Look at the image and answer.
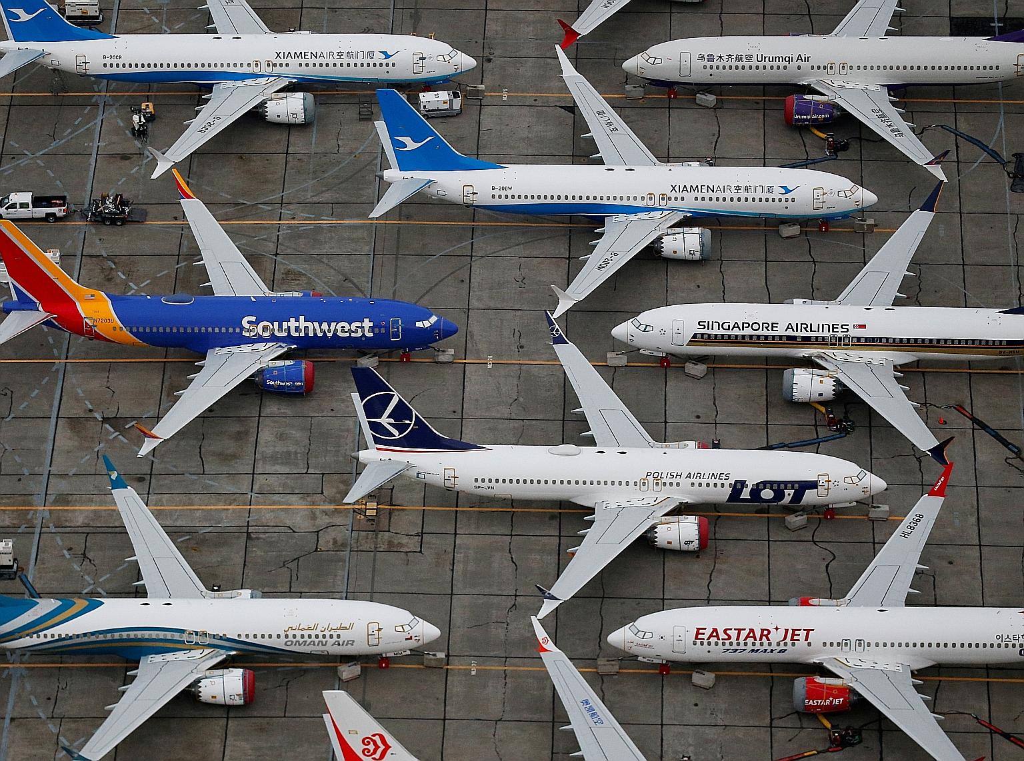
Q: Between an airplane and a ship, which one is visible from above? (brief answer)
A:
airplane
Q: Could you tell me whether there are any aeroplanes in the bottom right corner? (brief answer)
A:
Yes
